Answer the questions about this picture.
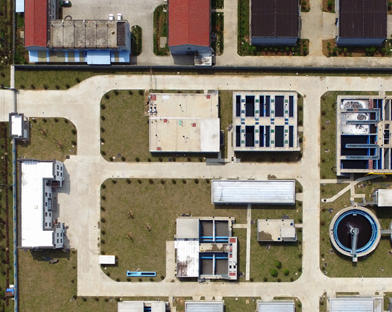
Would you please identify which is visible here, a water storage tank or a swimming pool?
water storage tank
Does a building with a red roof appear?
Yes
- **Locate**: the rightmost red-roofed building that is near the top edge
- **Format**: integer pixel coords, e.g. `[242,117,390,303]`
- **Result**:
[169,0,212,67]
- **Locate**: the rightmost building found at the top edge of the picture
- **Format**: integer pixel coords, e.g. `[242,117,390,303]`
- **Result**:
[334,0,389,45]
